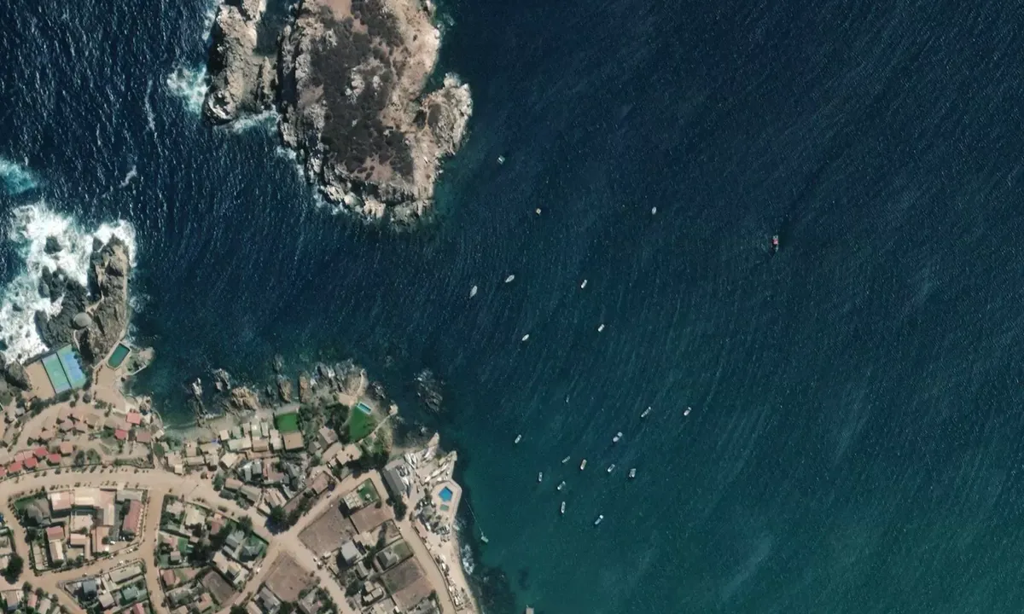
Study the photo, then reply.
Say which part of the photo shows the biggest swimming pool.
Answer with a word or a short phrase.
left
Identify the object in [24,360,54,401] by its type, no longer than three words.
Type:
sports court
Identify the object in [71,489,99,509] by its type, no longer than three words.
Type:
house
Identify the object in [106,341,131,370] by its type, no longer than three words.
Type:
swimming pool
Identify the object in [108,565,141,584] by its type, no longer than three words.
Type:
house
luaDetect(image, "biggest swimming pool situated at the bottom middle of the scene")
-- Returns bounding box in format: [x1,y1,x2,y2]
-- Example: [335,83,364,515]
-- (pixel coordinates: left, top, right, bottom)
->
[438,486,453,503]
